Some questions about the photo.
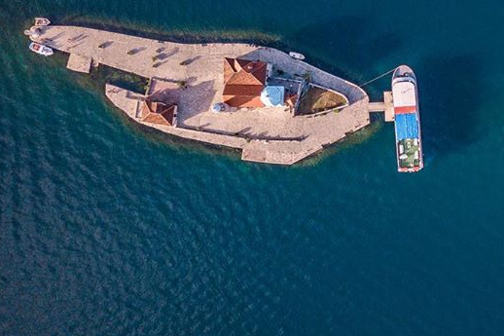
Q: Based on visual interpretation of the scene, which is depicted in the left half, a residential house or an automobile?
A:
residential house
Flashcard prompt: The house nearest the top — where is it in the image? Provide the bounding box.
[224,59,270,85]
